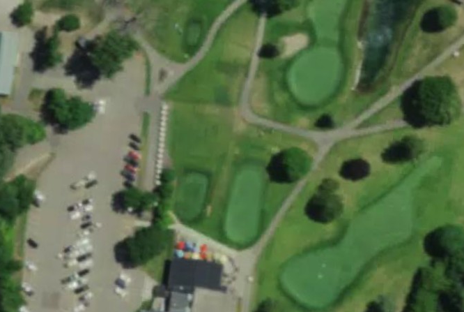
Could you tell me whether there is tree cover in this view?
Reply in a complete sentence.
Yes, tree cover shows up in the scene.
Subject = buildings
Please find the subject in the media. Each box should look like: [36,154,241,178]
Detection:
[146,260,236,312]
[0,31,17,96]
